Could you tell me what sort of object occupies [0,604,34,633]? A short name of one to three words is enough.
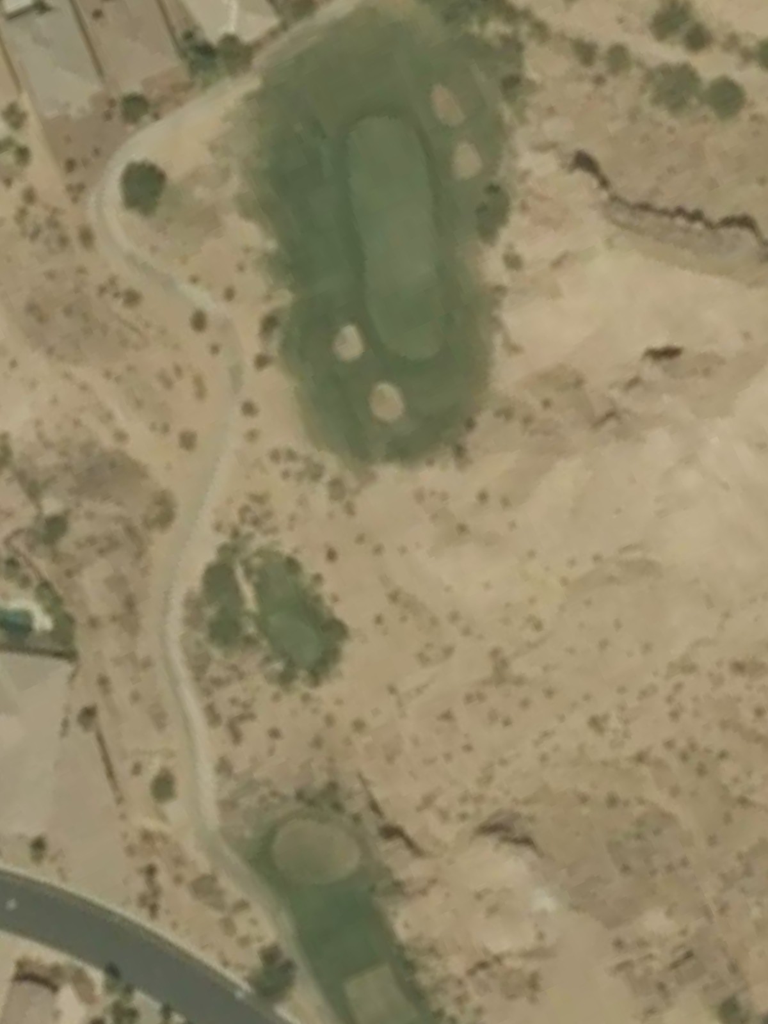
swimming pool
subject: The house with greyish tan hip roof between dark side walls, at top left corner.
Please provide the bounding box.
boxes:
[6,0,102,108]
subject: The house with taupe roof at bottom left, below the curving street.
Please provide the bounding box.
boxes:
[3,982,56,1024]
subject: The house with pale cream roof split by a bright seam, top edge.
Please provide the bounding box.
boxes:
[185,0,264,40]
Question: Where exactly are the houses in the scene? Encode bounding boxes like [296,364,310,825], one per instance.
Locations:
[3,982,56,1024]
[0,653,71,835]
[185,0,264,40]
[80,0,178,88]
[6,0,102,108]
